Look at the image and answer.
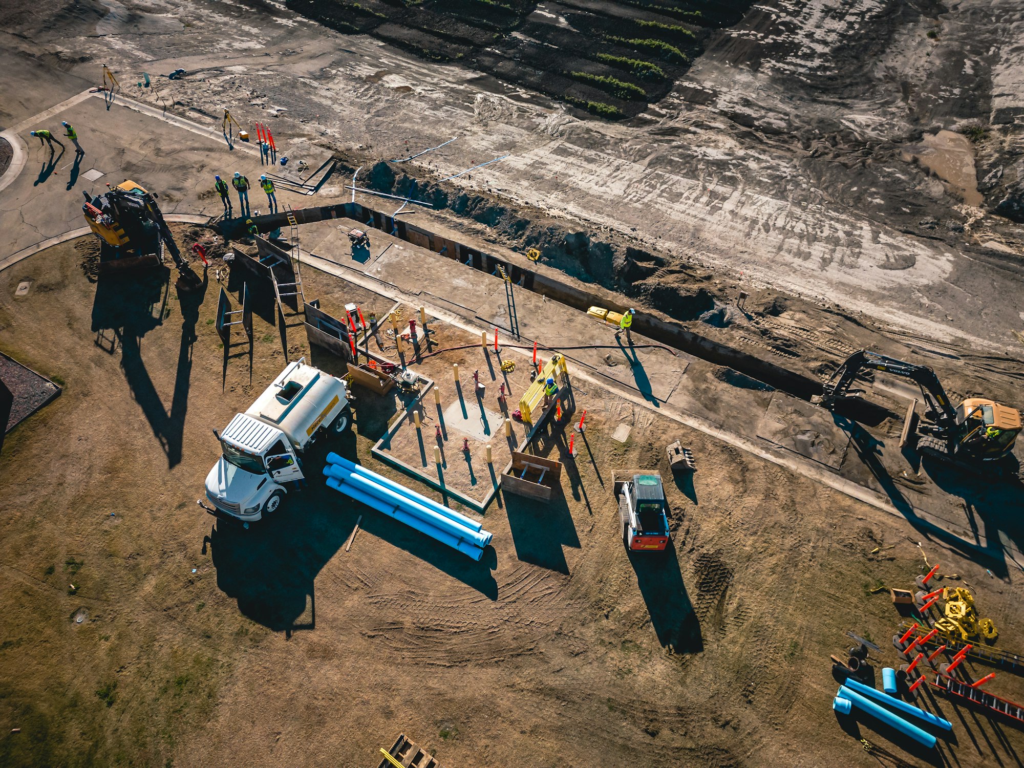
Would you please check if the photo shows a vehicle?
Yes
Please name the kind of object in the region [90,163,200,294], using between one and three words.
work vehicle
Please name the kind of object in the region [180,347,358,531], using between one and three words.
truck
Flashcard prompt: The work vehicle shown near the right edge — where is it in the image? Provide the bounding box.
[804,339,1024,489]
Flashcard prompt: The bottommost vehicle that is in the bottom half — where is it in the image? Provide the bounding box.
[609,474,677,553]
